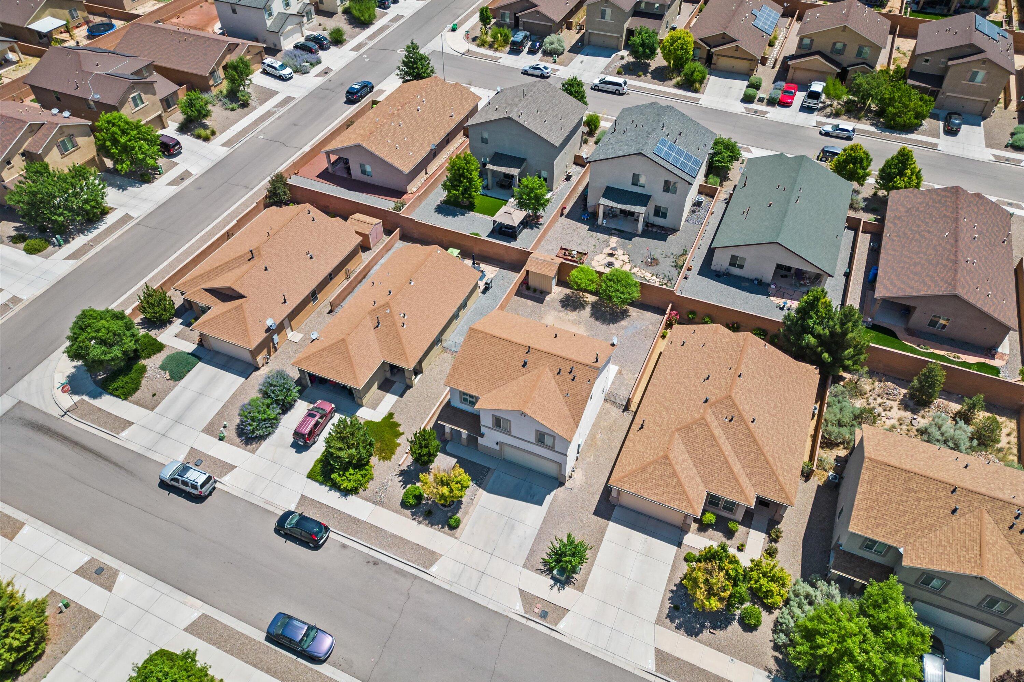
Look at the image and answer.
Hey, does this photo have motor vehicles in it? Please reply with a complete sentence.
Yes, the picture does show a motor vehicle.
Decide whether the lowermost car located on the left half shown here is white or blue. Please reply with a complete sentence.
In this view, the lowermost car located on the left half is blue.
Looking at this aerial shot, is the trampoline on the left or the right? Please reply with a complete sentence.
It is on the left.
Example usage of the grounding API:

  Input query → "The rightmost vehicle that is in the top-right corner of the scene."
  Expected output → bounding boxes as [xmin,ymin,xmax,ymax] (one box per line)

[944,110,965,131]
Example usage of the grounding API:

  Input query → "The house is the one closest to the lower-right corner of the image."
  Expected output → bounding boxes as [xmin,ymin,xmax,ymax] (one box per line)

[827,425,1024,647]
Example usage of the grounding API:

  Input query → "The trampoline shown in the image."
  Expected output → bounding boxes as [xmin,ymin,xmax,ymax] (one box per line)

[83,13,115,35]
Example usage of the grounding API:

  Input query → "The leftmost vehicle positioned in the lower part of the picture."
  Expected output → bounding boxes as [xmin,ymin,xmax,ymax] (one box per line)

[156,460,216,499]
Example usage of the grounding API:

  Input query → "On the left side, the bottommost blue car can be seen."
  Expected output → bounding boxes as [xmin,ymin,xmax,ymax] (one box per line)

[261,611,336,666]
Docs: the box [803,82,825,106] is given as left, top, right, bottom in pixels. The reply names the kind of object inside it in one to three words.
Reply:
truck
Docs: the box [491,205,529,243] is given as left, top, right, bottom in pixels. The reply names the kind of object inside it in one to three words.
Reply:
gazebo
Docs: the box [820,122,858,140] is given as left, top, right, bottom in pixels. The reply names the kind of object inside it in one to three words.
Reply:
car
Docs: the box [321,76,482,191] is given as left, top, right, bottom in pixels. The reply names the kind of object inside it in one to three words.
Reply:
house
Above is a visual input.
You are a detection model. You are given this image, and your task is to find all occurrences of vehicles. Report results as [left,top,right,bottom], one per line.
[780,83,799,104]
[589,74,629,94]
[510,31,534,51]
[156,460,216,499]
[261,611,336,666]
[517,62,552,78]
[912,629,955,682]
[289,401,336,445]
[296,31,326,48]
[820,122,858,140]
[274,510,333,549]
[255,57,292,78]
[344,80,374,102]
[803,82,825,106]
[944,110,965,131]
[156,132,180,153]
[363,0,392,9]
[815,144,841,161]
[526,39,547,55]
